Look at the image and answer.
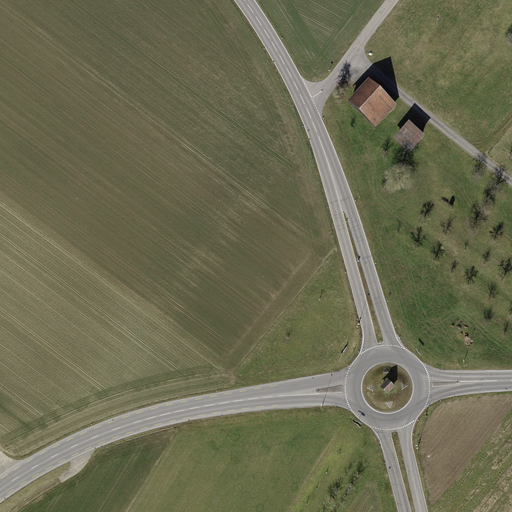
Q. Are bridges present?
No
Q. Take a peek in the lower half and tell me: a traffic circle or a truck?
traffic circle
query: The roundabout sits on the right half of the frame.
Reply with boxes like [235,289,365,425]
[345,345,430,430]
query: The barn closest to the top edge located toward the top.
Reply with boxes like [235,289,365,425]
[348,78,397,126]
